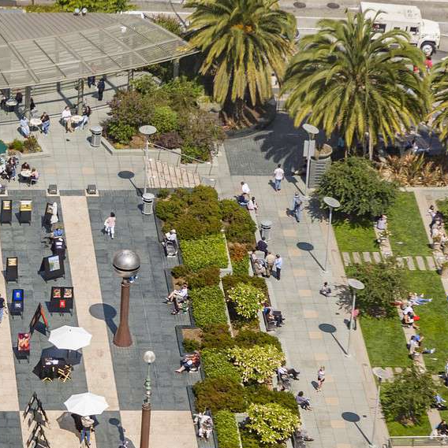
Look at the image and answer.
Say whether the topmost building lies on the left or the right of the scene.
left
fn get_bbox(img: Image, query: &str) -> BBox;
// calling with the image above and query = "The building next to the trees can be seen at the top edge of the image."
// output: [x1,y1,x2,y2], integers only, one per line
[0,6,197,120]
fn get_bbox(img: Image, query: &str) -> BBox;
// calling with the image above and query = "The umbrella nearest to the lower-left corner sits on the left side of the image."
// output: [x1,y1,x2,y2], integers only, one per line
[64,394,109,425]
